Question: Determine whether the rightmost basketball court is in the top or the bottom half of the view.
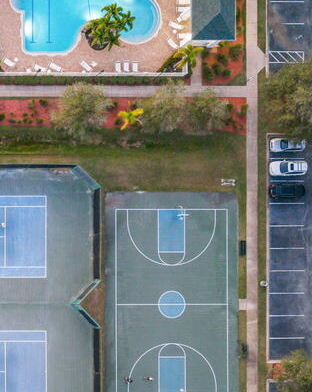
bottom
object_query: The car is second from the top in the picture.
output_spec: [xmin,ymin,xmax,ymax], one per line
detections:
[268,159,307,176]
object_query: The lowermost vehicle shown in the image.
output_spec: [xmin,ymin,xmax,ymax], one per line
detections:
[269,182,305,199]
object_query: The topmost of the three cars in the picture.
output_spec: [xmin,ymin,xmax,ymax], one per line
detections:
[269,137,305,153]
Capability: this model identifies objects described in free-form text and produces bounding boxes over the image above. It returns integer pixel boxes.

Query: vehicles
[269,182,305,199]
[269,137,305,153]
[268,159,307,176]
